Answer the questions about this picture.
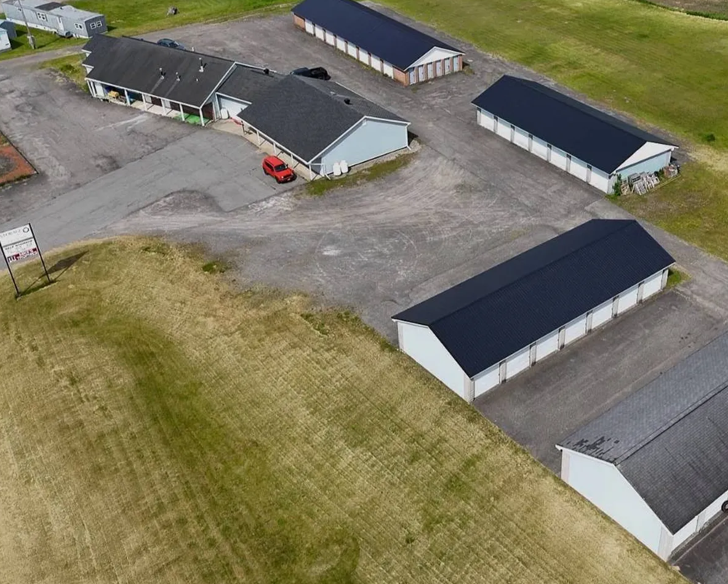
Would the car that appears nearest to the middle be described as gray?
No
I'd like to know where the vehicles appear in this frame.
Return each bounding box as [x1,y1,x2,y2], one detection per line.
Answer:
[288,65,335,81]
[260,154,297,184]
[156,37,188,51]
